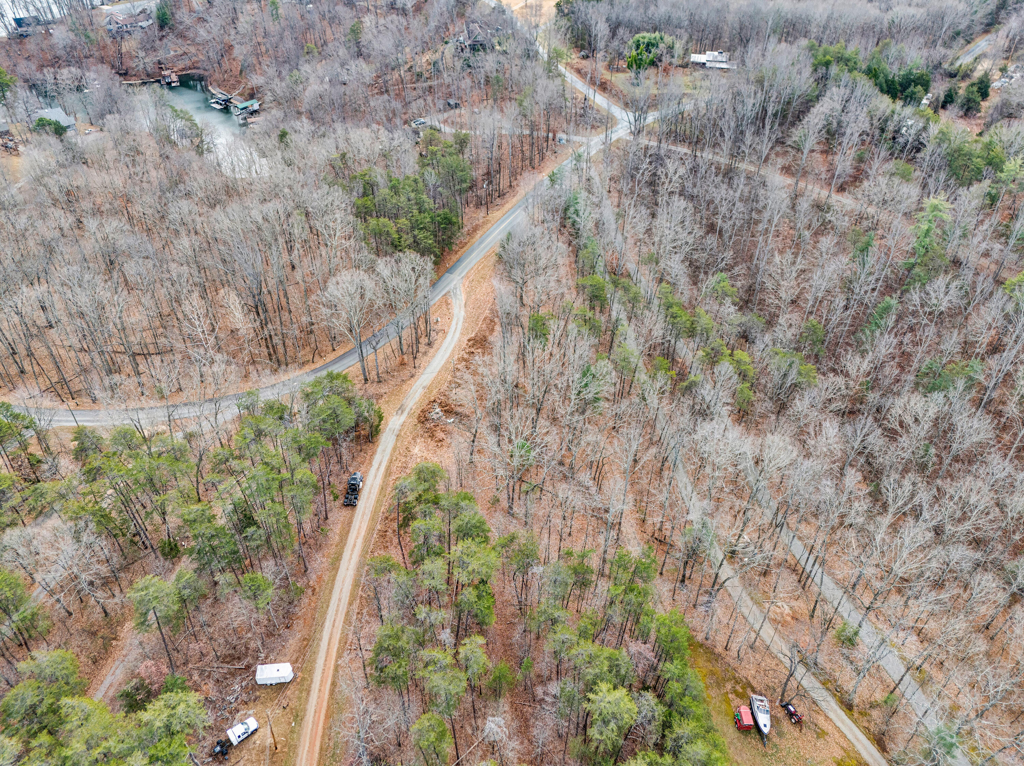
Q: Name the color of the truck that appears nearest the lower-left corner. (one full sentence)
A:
The truck that appears nearest the lower-left corner looks white in the image.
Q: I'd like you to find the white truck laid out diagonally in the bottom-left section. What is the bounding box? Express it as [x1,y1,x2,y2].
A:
[214,719,261,756]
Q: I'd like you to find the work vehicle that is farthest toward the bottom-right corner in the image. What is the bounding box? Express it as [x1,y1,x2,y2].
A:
[778,701,806,726]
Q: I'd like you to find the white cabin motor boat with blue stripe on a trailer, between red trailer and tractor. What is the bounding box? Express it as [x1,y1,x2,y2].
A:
[753,693,772,751]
